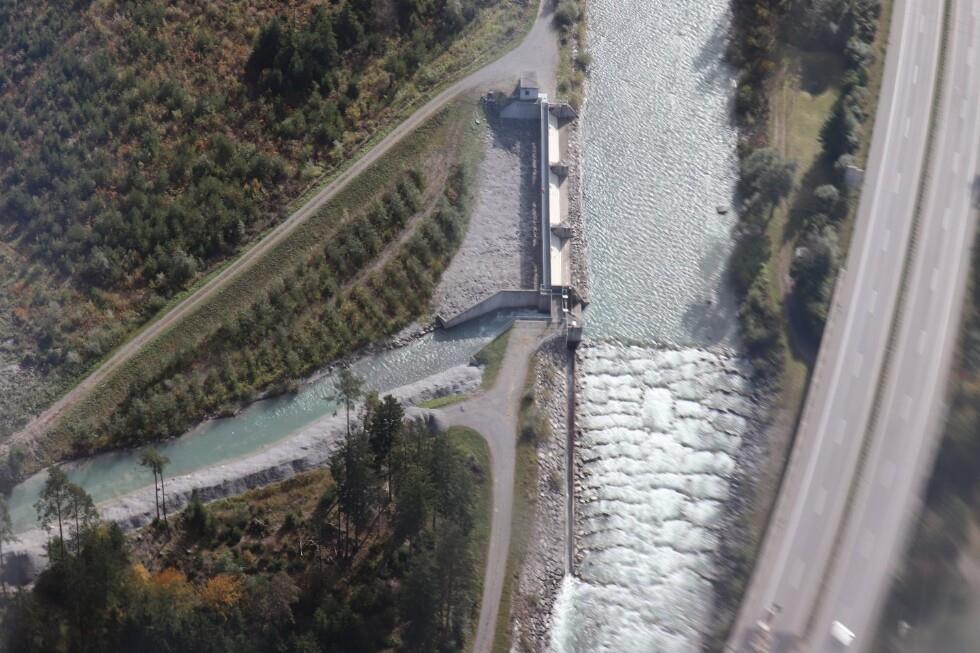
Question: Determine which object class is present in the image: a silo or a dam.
dam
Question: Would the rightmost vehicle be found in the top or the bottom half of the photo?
bottom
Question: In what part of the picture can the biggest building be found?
top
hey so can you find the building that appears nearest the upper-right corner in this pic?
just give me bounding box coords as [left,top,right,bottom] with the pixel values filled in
[519,76,539,101]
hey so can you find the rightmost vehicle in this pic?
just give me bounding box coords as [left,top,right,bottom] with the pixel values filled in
[834,621,855,653]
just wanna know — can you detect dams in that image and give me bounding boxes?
[503,90,578,293]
